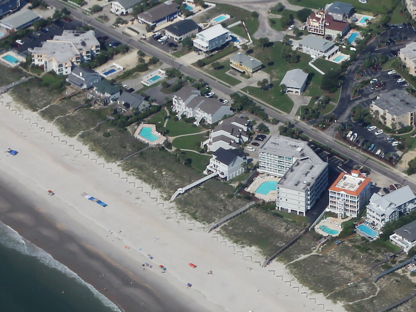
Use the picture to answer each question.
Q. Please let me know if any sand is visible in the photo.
Yes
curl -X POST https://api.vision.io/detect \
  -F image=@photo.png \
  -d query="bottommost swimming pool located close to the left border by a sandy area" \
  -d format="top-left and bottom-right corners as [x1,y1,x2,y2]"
[0,50,26,65]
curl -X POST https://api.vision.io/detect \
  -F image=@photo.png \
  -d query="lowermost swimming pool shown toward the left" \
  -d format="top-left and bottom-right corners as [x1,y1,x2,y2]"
[135,122,166,145]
